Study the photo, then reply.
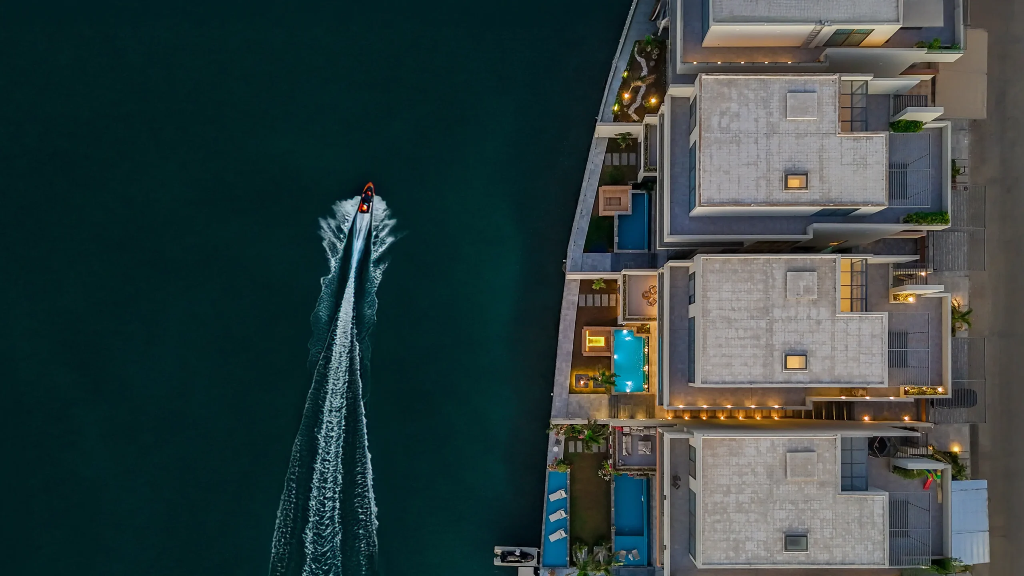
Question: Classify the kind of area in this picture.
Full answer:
This looks like a residential area.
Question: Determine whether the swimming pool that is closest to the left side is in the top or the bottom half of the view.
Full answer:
The swimming pool that is closest to the left side is in the bottom half of the image.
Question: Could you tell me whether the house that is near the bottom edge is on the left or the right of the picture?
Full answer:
The house that is near the bottom edge is on the right side of the image.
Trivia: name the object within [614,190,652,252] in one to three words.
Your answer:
swimming pool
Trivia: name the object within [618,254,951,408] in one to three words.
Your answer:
house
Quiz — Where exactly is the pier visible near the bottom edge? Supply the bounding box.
[494,545,542,566]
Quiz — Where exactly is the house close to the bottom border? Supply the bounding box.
[610,420,951,576]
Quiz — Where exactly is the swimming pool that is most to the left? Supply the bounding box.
[540,469,570,569]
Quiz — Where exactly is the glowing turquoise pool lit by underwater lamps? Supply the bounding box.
[611,327,649,395]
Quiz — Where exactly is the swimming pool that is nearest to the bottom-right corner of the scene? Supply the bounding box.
[612,471,650,568]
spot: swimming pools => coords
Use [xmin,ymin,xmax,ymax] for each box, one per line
[611,327,649,395]
[614,190,652,252]
[612,471,650,568]
[540,469,570,569]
